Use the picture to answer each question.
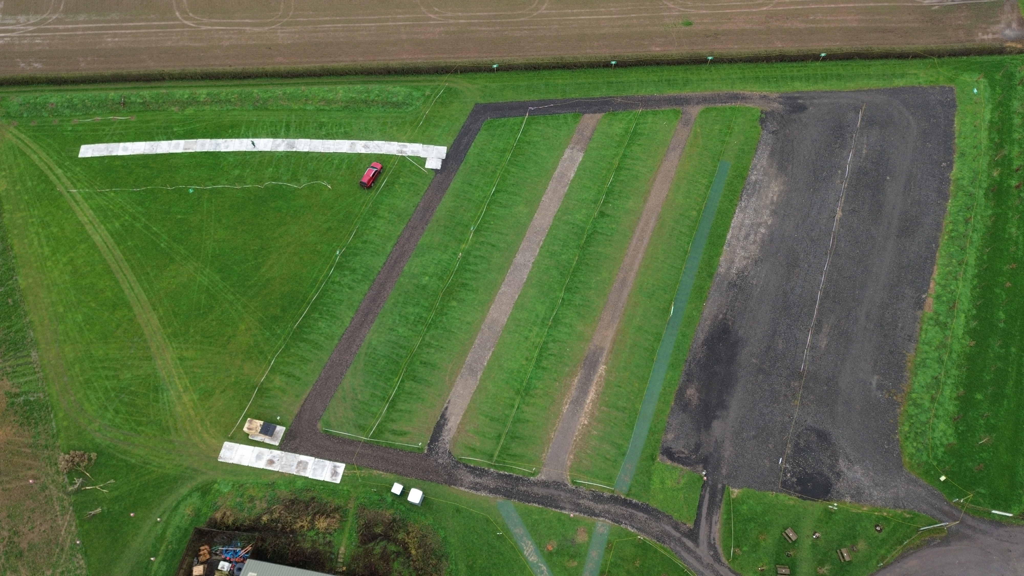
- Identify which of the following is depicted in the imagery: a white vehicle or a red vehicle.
red vehicle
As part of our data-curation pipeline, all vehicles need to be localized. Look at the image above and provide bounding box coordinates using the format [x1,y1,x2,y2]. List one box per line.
[358,161,383,190]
